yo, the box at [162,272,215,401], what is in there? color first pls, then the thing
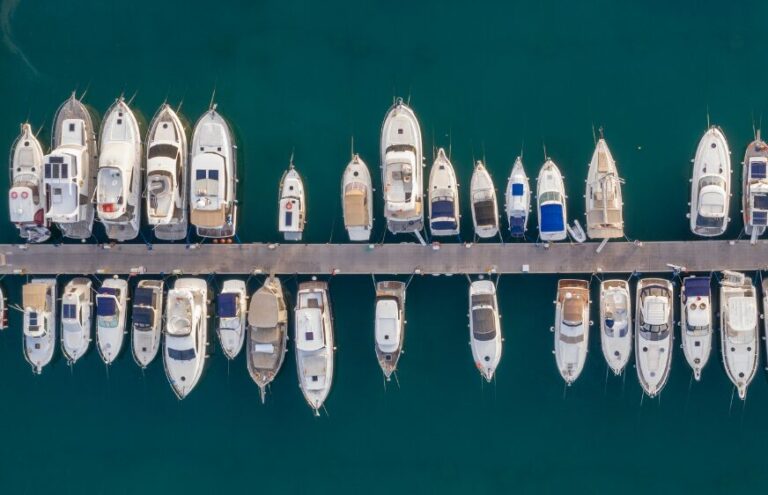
white boat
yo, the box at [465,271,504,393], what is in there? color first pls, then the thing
white boat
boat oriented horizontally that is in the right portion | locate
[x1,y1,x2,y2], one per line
[722,270,748,284]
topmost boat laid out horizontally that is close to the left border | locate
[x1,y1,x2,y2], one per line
[16,229,48,242]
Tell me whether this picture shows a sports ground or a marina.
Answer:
marina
